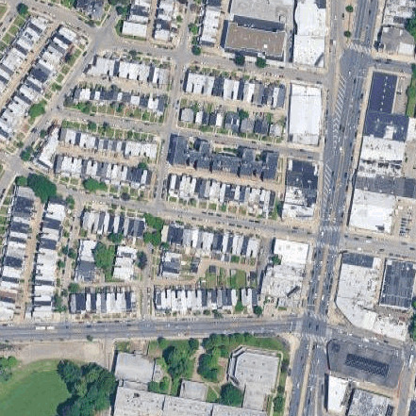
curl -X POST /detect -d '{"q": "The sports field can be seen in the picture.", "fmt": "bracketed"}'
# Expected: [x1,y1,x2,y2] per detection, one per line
[0,353,75,416]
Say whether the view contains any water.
No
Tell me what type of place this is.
residential area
